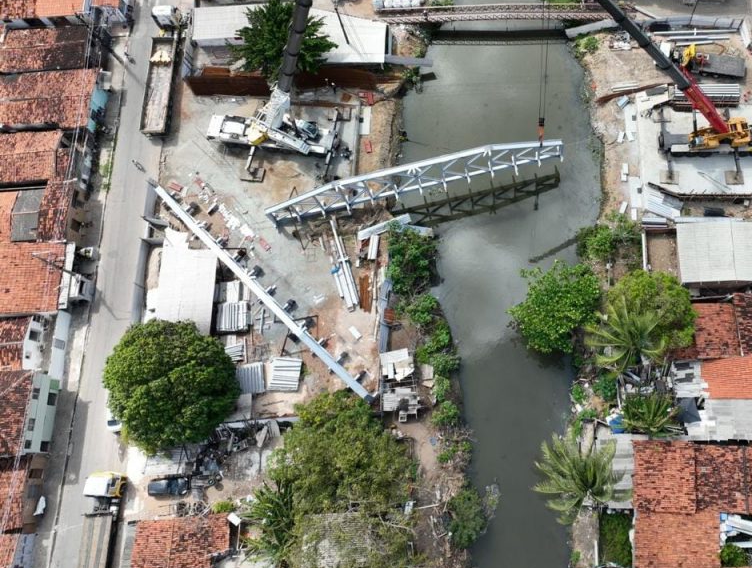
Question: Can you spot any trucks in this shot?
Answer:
Yes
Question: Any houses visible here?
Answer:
Yes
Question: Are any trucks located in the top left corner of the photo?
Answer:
Yes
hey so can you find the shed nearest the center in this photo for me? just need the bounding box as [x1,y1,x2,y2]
[379,349,414,381]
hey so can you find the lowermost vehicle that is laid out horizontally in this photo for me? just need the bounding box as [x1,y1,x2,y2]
[147,476,190,497]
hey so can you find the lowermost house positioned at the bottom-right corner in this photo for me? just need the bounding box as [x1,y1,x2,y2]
[635,513,721,568]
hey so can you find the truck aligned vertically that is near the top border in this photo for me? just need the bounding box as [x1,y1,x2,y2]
[135,3,176,133]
